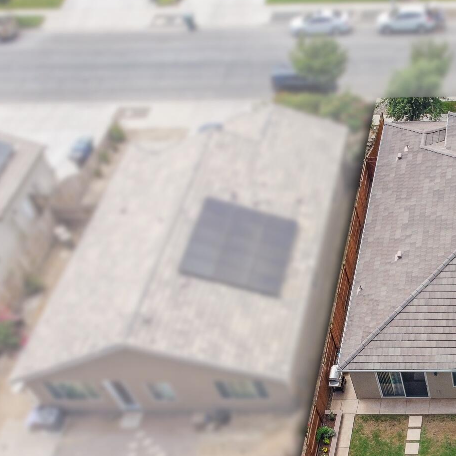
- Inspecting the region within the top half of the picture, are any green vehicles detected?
No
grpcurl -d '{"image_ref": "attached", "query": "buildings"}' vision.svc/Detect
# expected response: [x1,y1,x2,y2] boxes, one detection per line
[336,110,456,399]
[0,121,62,289]
[7,101,351,412]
